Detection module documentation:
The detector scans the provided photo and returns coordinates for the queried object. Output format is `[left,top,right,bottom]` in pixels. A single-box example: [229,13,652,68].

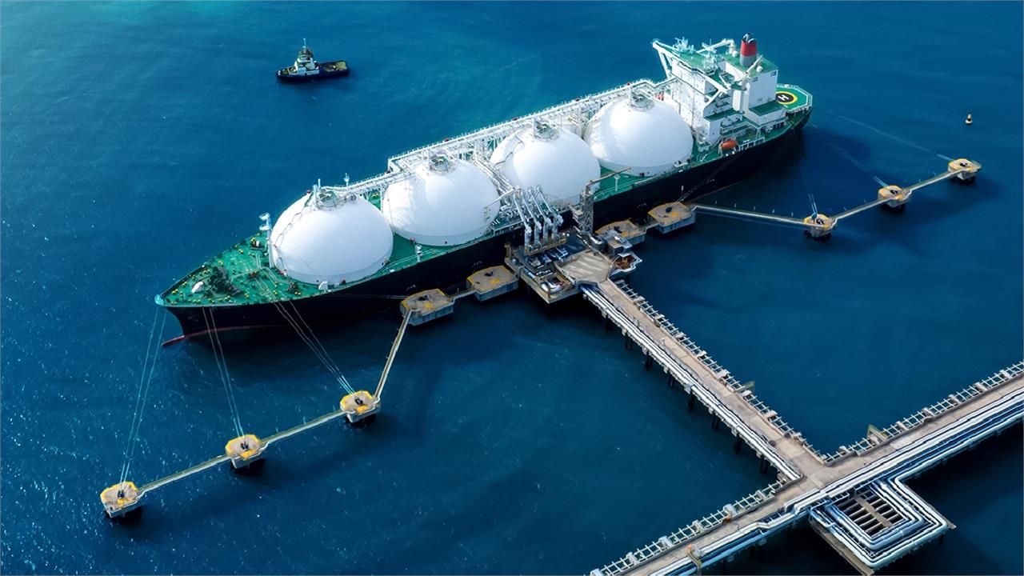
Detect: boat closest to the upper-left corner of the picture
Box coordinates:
[277,38,350,83]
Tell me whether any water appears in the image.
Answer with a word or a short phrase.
Yes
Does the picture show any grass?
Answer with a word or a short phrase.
No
